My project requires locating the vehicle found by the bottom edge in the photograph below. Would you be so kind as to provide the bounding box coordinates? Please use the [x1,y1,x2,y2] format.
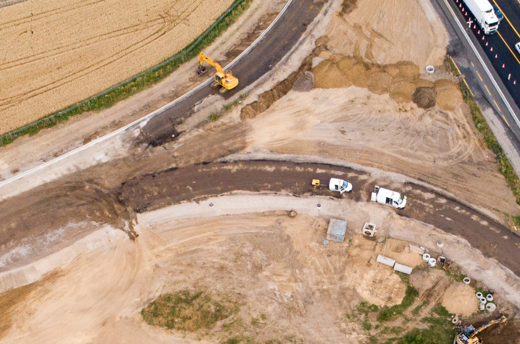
[452,313,509,344]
